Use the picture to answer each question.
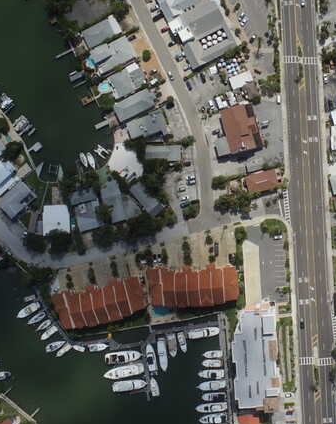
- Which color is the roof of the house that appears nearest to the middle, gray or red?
gray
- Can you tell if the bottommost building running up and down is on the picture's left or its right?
right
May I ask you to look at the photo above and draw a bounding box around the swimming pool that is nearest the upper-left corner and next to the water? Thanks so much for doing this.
[81,54,99,72]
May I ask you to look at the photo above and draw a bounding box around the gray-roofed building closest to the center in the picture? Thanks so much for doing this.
[130,182,163,216]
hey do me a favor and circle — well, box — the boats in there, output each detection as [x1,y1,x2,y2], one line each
[196,380,226,390]
[110,380,147,392]
[103,363,145,379]
[195,402,227,412]
[27,311,46,323]
[166,334,177,357]
[40,325,58,339]
[55,343,73,356]
[73,344,86,351]
[104,351,141,364]
[198,414,225,424]
[13,118,27,130]
[186,327,219,340]
[98,145,109,157]
[87,343,108,351]
[203,351,222,358]
[1,99,13,109]
[156,336,167,372]
[79,152,88,167]
[201,359,222,367]
[16,301,41,317]
[150,377,160,396]
[87,152,96,170]
[177,332,187,353]
[44,340,65,353]
[201,392,224,401]
[198,370,222,378]
[36,319,52,330]
[146,343,159,372]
